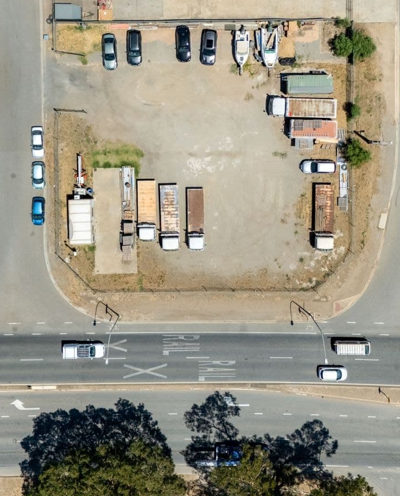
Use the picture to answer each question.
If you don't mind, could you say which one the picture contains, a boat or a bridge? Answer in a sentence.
The one in the frame is a boat.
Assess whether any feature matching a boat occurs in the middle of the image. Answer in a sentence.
No, there's no boat to be seen in the middle of the image.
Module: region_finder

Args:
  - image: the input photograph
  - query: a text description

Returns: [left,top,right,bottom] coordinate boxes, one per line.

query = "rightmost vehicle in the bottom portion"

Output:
[333,338,369,355]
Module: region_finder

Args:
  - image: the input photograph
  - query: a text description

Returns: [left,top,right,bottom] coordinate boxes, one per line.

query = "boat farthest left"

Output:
[233,22,250,72]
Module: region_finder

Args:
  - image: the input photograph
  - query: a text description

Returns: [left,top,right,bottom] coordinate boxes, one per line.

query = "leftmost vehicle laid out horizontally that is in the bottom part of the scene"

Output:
[62,342,105,360]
